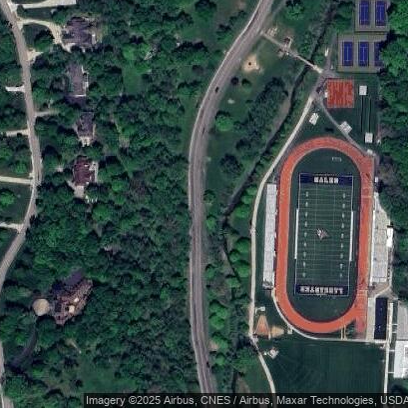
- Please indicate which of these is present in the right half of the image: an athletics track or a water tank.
athletics track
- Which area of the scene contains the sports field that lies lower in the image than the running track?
bottom right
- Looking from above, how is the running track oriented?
vertically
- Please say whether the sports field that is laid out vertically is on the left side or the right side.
right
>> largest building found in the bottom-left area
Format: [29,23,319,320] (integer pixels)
[55,275,95,326]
